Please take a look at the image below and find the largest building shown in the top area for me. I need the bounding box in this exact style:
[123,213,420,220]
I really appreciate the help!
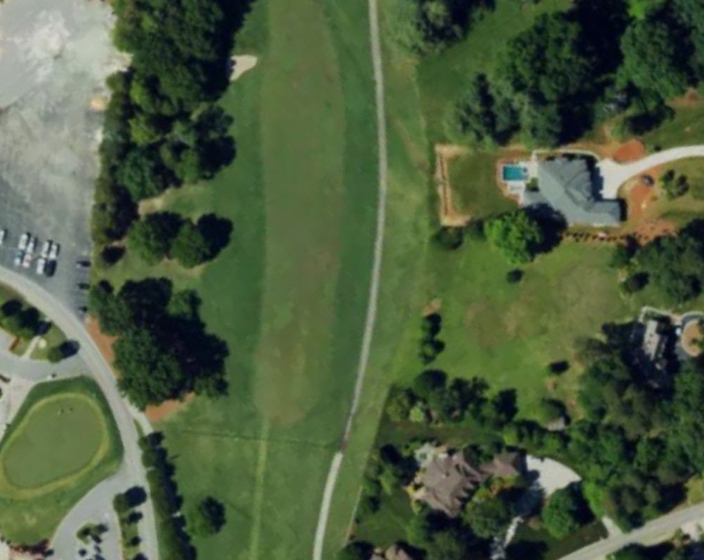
[531,145,623,229]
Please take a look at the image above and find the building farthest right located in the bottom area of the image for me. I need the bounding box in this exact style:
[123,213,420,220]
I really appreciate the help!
[639,316,672,369]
